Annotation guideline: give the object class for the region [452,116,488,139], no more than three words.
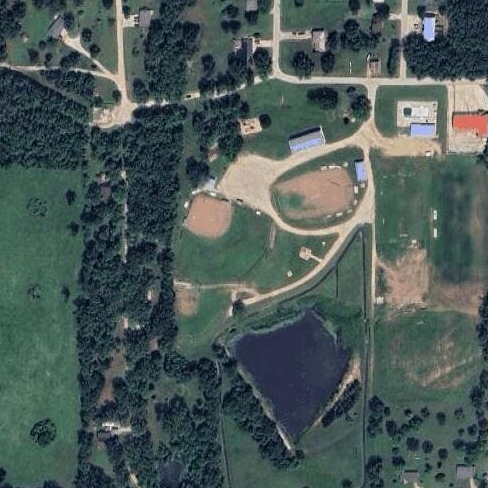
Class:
building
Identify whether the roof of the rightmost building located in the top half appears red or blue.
red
